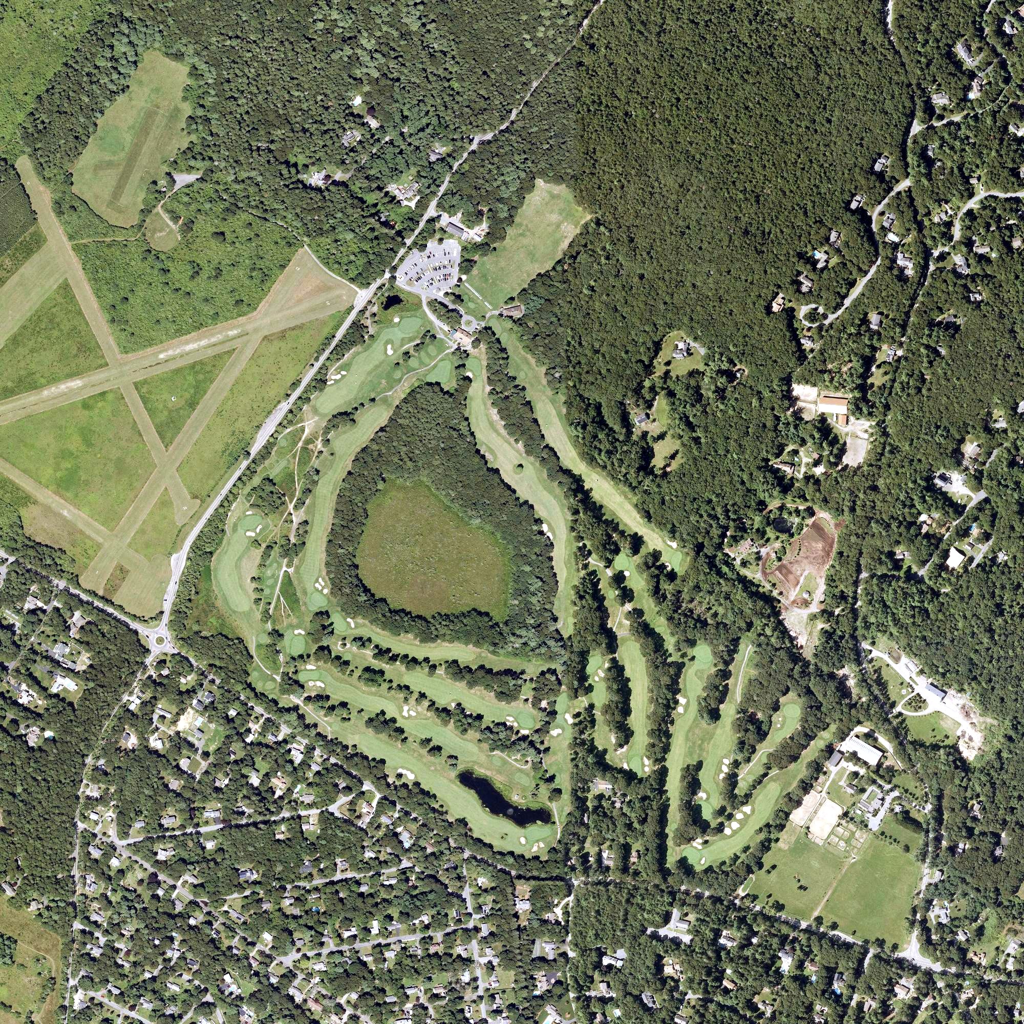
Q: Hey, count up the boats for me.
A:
none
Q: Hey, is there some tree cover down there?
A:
Yes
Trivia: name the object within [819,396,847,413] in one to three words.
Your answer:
barn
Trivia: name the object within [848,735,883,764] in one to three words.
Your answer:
barn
